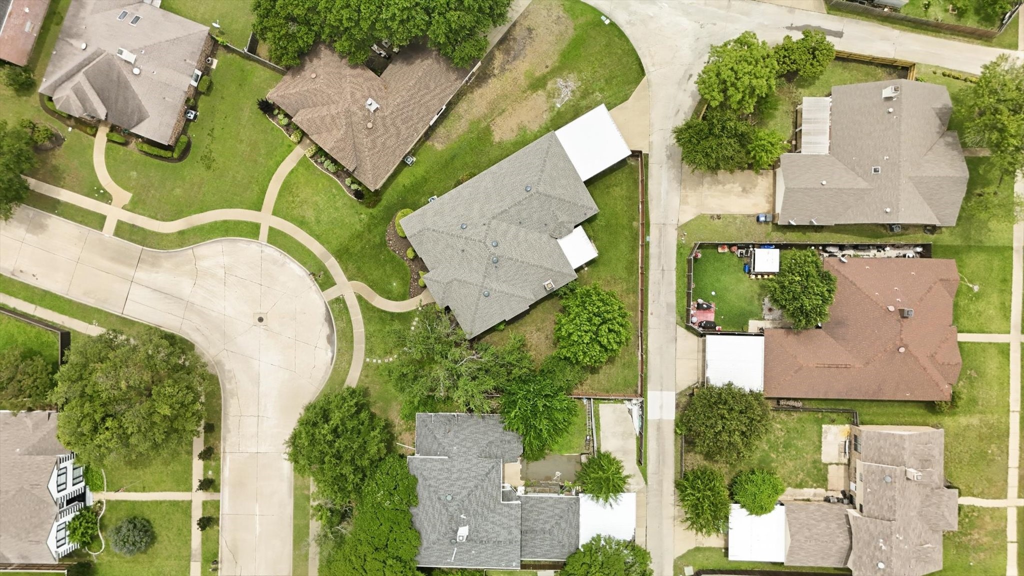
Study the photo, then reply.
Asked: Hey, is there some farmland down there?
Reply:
No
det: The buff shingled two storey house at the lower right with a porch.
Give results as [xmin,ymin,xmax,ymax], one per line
[784,426,958,576]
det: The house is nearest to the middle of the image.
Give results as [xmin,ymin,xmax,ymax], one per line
[400,131,599,337]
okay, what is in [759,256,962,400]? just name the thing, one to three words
house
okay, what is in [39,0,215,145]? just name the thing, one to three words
house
